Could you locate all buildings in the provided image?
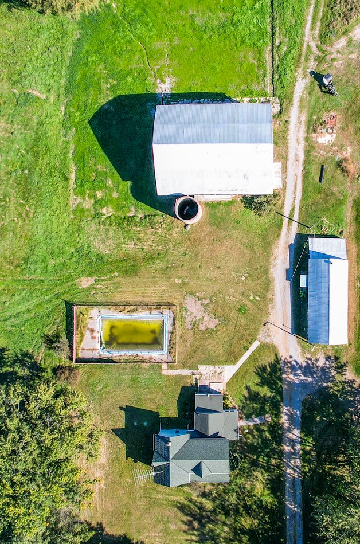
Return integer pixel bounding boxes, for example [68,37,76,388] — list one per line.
[300,239,347,345]
[152,103,274,196]
[151,393,240,488]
